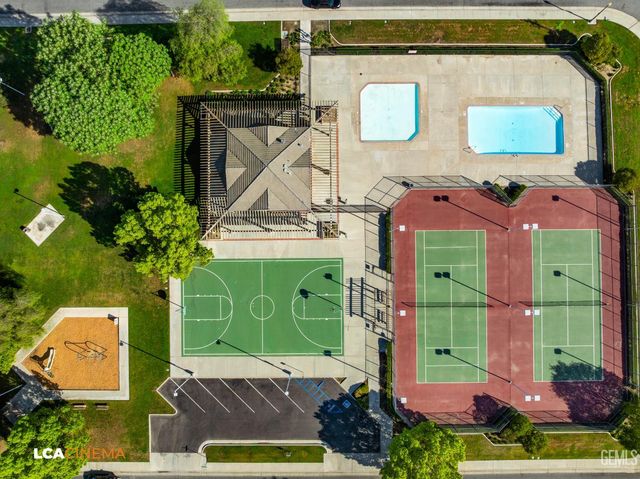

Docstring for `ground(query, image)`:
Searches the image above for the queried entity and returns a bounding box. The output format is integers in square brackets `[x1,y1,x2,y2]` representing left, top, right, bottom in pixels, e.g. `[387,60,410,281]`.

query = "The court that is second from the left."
[392,188,511,426]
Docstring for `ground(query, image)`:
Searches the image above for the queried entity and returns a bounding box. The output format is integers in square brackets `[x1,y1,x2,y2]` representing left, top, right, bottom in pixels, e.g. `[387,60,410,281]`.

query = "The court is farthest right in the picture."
[509,187,625,425]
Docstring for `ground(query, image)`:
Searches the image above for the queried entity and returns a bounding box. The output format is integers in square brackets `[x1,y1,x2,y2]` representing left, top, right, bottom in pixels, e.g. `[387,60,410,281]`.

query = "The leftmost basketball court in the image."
[182,258,343,356]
